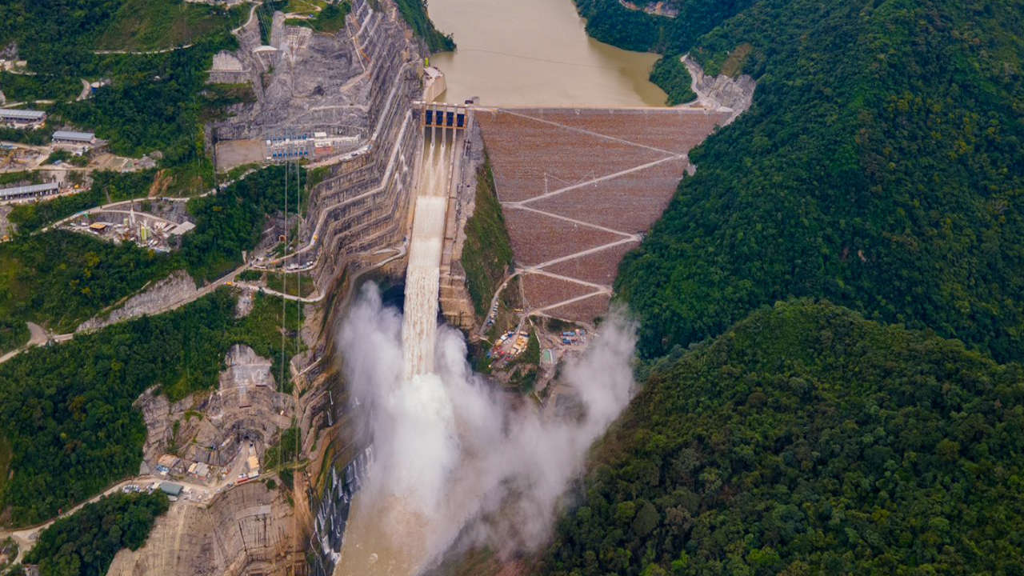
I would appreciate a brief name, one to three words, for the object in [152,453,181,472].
building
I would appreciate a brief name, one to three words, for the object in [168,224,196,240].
building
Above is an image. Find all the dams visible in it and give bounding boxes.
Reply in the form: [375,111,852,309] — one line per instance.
[471,104,737,322]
